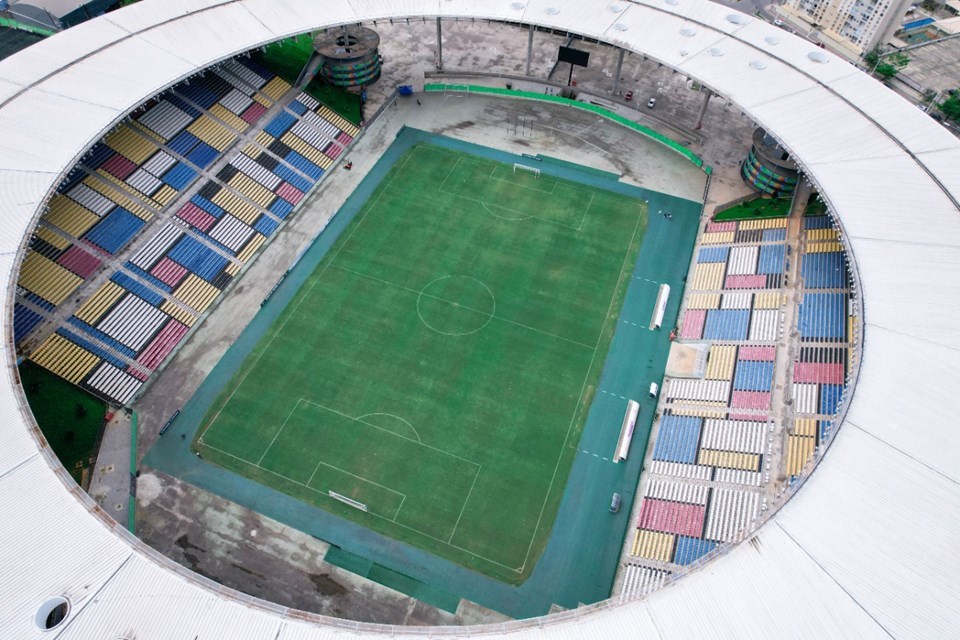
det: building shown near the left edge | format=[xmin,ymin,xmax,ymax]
[48,2,138,30]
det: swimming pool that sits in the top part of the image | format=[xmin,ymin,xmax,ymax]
[897,16,933,31]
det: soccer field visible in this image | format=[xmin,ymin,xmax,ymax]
[139,127,701,621]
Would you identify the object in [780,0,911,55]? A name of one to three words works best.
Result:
building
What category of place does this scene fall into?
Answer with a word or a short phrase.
sports ground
